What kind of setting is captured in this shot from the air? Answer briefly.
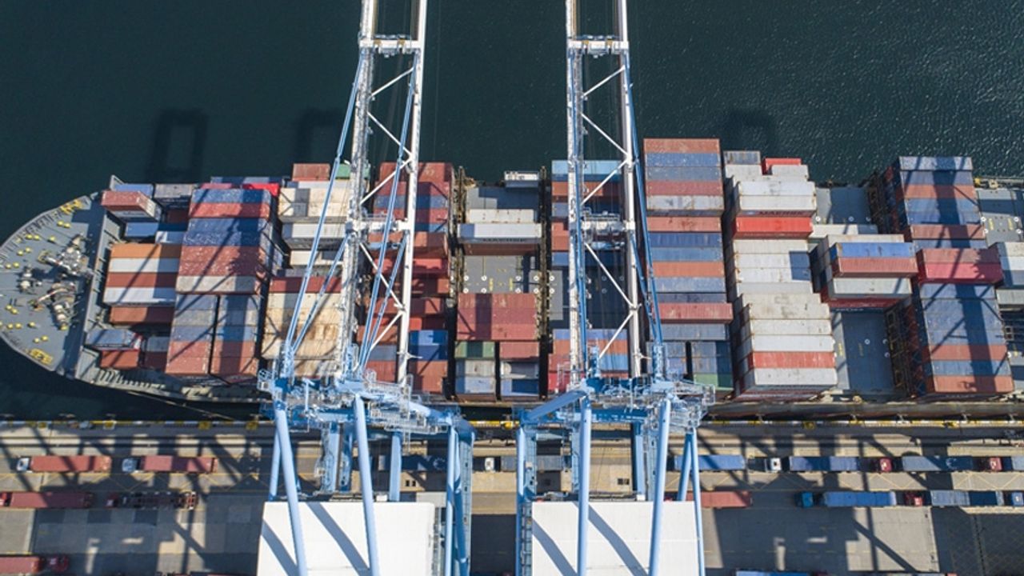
port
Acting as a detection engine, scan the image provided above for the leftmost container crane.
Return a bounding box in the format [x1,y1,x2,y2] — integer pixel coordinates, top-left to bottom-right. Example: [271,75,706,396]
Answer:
[238,0,495,576]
